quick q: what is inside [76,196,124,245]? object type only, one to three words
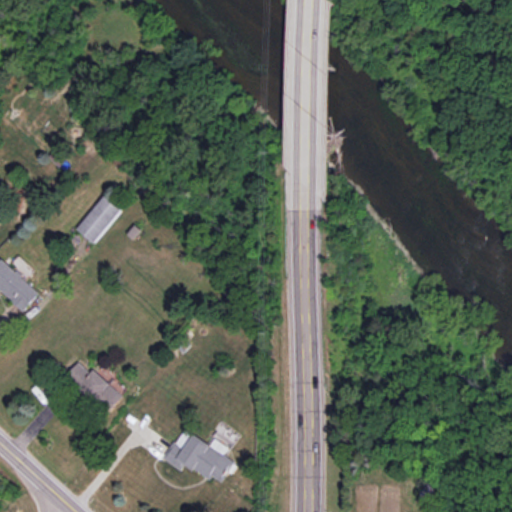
barn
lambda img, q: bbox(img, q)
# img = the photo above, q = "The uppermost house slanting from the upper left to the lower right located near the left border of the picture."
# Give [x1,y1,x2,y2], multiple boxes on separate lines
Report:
[0,257,40,310]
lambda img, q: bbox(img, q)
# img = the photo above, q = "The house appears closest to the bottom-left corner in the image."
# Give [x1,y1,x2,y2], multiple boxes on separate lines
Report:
[70,362,125,414]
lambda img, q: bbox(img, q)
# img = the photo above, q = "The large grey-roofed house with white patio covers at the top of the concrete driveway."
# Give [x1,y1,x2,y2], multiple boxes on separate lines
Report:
[162,432,241,484]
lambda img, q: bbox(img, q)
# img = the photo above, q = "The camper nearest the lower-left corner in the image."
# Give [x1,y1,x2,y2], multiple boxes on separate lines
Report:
[32,386,47,405]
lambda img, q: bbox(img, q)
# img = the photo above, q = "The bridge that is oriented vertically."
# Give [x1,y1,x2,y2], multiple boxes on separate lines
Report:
[282,0,336,210]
